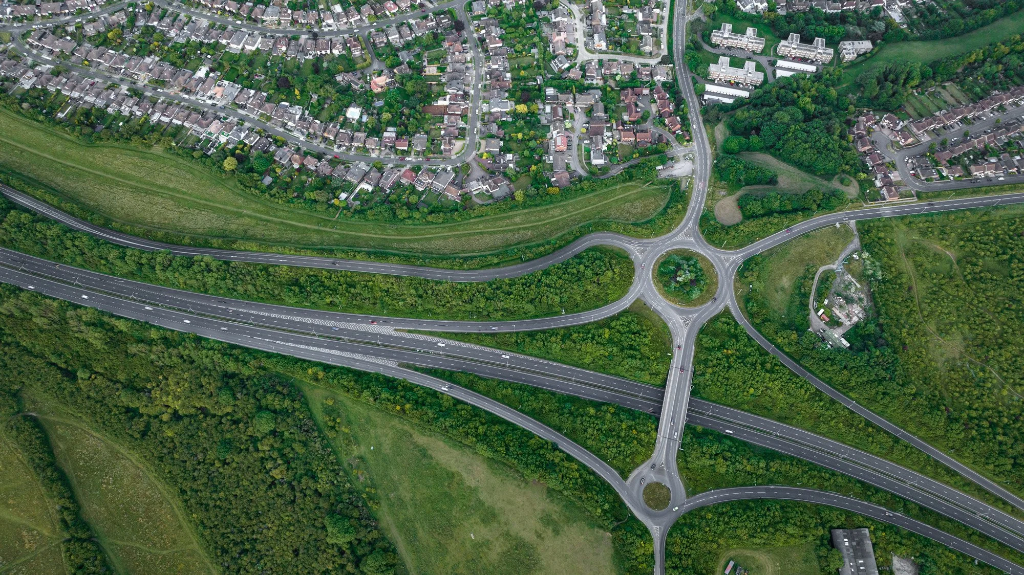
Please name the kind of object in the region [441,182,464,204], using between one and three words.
house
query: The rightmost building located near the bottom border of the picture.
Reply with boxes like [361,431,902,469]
[828,529,879,575]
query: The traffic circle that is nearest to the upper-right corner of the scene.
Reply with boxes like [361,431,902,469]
[597,222,768,346]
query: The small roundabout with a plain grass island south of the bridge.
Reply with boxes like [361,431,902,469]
[614,445,687,536]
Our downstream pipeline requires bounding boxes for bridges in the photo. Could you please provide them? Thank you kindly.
[656,345,694,448]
